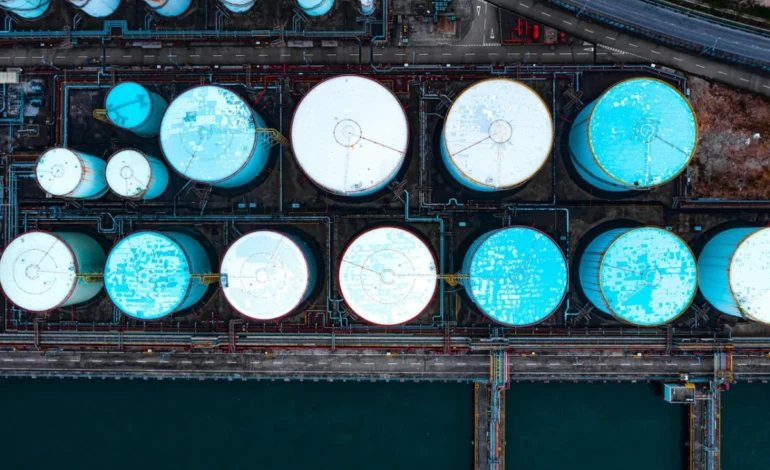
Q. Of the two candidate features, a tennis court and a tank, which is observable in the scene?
tank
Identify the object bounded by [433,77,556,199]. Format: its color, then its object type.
white storage tank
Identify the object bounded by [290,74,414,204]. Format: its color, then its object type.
white storage tank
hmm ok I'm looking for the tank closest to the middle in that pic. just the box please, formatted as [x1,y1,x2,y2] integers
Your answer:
[336,220,441,327]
